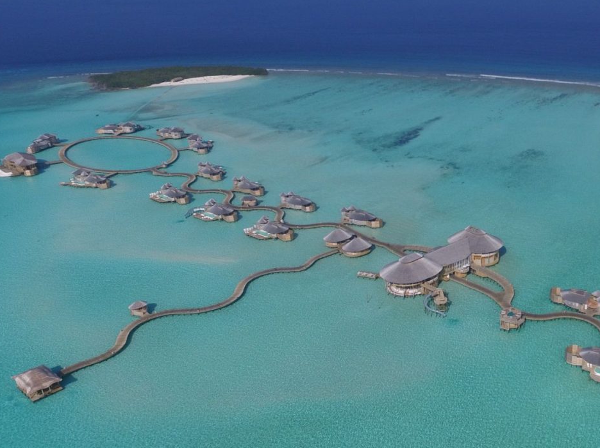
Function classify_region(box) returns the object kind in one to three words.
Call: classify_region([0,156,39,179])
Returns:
house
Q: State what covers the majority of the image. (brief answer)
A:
water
